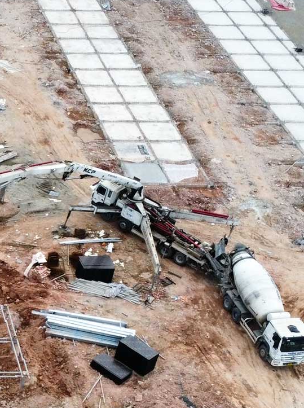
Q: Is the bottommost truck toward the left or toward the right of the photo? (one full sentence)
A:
The bottommost truck appears in the right half of the scene.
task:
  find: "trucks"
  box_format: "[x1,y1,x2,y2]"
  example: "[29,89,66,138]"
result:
[220,247,304,361]
[0,159,240,301]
